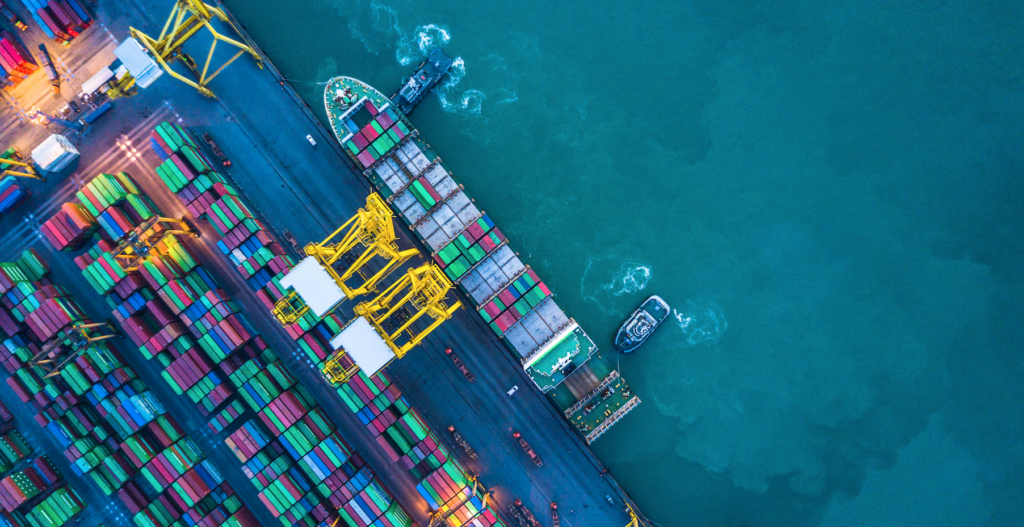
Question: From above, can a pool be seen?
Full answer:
No, there appears to be no pool in this shot.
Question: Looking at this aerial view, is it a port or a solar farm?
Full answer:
This looks like a port.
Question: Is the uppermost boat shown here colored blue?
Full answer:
Yes, the uppermost boat is blue.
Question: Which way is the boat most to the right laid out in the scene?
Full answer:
The boat most to the right is oriented at an angle.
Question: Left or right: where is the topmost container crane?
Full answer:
The topmost container crane sits on the left side.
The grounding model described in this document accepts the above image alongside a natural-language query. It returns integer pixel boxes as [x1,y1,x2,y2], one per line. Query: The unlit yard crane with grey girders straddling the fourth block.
[30,318,124,382]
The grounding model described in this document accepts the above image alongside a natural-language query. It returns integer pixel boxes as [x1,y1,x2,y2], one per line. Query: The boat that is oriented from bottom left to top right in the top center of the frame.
[389,48,452,115]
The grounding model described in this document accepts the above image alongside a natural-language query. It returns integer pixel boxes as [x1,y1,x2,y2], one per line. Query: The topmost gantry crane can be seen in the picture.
[100,0,269,106]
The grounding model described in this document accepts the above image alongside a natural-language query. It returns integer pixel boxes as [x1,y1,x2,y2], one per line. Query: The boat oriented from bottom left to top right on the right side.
[612,295,672,355]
